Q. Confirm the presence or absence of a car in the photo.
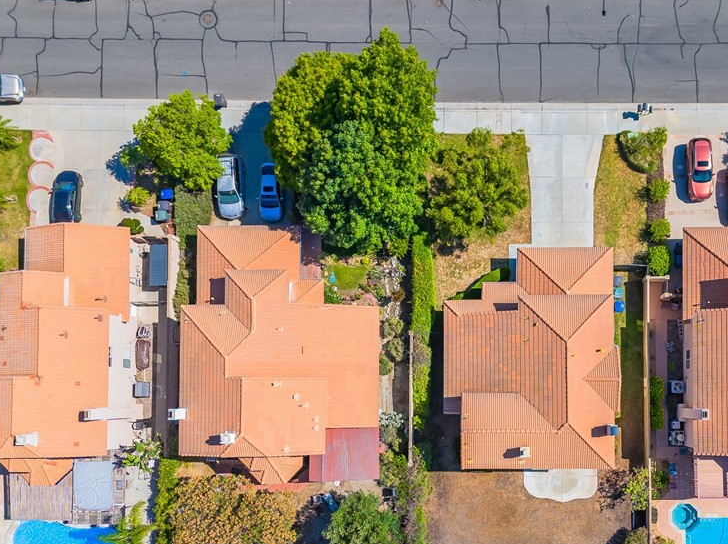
Yes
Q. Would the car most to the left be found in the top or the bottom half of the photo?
top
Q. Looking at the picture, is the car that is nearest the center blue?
Yes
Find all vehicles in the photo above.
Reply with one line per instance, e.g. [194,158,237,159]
[48,171,87,225]
[254,164,286,225]
[213,153,247,220]
[683,139,715,204]
[0,72,31,107]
